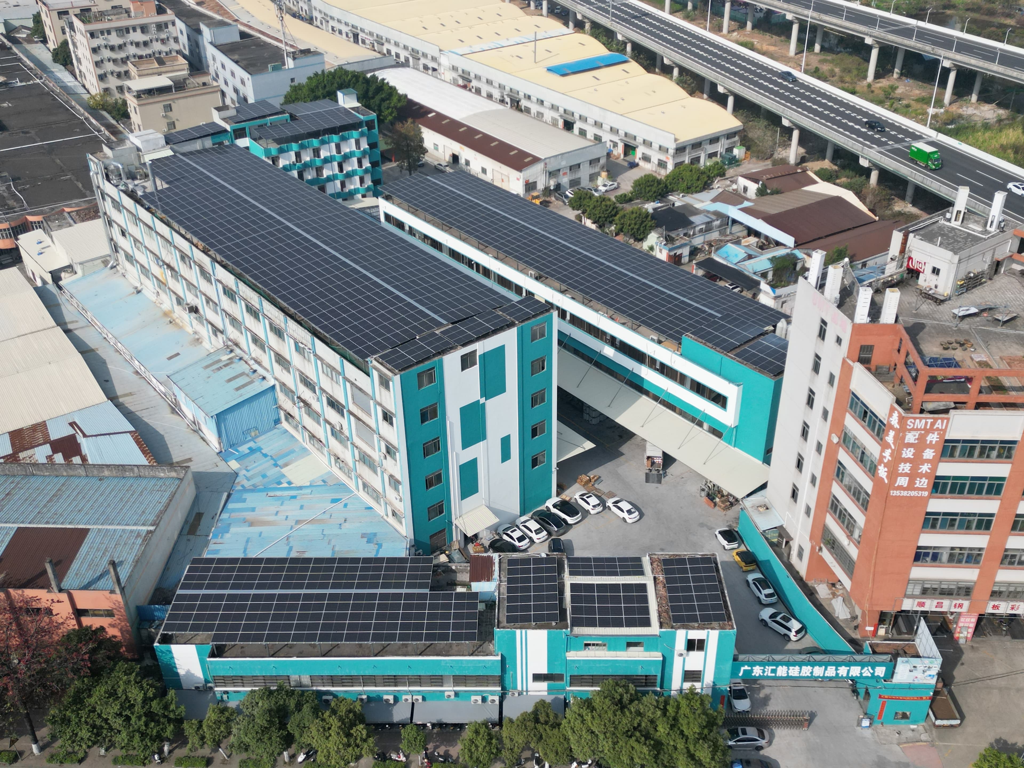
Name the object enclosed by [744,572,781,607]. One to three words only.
car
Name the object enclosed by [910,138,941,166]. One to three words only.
truck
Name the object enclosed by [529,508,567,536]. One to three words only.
car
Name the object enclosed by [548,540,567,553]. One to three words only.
vehicle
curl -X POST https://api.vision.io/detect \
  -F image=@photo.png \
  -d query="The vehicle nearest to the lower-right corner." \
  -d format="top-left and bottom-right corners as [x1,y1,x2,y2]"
[934,673,963,728]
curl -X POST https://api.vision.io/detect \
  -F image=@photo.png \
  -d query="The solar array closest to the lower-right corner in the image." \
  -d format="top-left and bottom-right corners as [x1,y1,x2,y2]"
[661,555,728,628]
